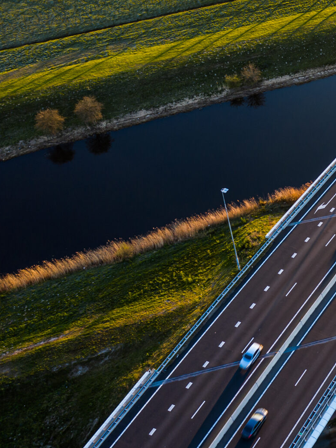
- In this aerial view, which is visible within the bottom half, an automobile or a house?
automobile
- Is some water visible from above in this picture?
Yes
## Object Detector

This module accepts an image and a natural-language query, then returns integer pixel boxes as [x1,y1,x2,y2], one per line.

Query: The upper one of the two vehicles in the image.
[237,342,263,370]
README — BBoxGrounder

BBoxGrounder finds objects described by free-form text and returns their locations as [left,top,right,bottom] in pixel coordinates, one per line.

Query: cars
[237,342,263,370]
[240,408,270,442]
